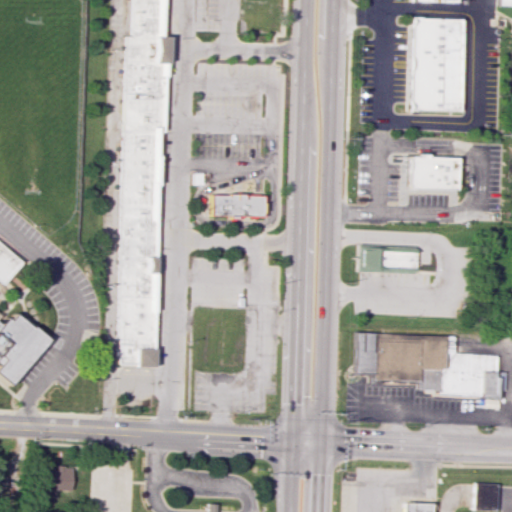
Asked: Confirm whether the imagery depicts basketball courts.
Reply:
No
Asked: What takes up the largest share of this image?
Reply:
paved ground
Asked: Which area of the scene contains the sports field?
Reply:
top left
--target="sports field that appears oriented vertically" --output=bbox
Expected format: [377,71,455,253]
[0,0,90,266]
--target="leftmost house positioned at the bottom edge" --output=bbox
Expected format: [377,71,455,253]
[58,466,76,492]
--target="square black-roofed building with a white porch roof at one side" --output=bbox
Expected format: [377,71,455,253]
[472,484,502,512]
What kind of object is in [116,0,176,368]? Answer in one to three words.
building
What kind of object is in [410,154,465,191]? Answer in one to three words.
building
